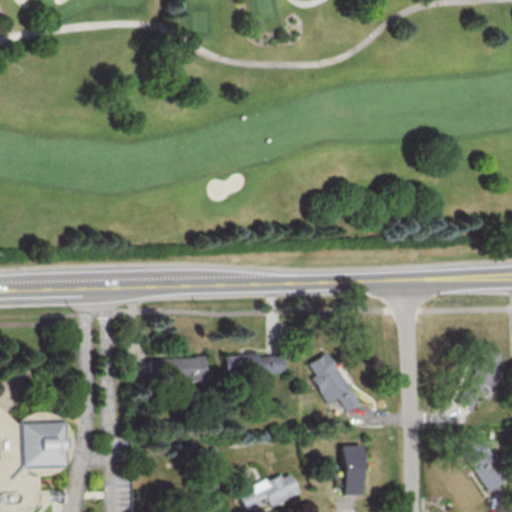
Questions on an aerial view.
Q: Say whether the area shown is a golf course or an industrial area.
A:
golf course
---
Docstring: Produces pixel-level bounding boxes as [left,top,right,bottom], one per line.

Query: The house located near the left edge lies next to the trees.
[22,420,68,469]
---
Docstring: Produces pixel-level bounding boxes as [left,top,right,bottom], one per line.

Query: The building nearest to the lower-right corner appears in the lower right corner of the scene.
[472,446,506,495]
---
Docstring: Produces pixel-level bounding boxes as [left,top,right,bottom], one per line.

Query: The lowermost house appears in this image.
[240,474,302,512]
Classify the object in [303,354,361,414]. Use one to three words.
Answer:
house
